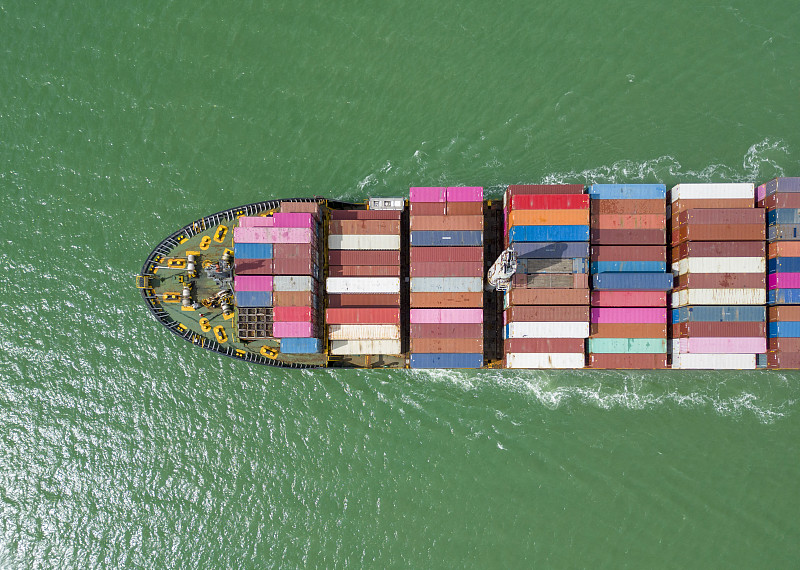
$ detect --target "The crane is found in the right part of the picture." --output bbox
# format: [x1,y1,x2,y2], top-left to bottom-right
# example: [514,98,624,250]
[483,248,519,298]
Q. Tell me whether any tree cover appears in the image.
No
